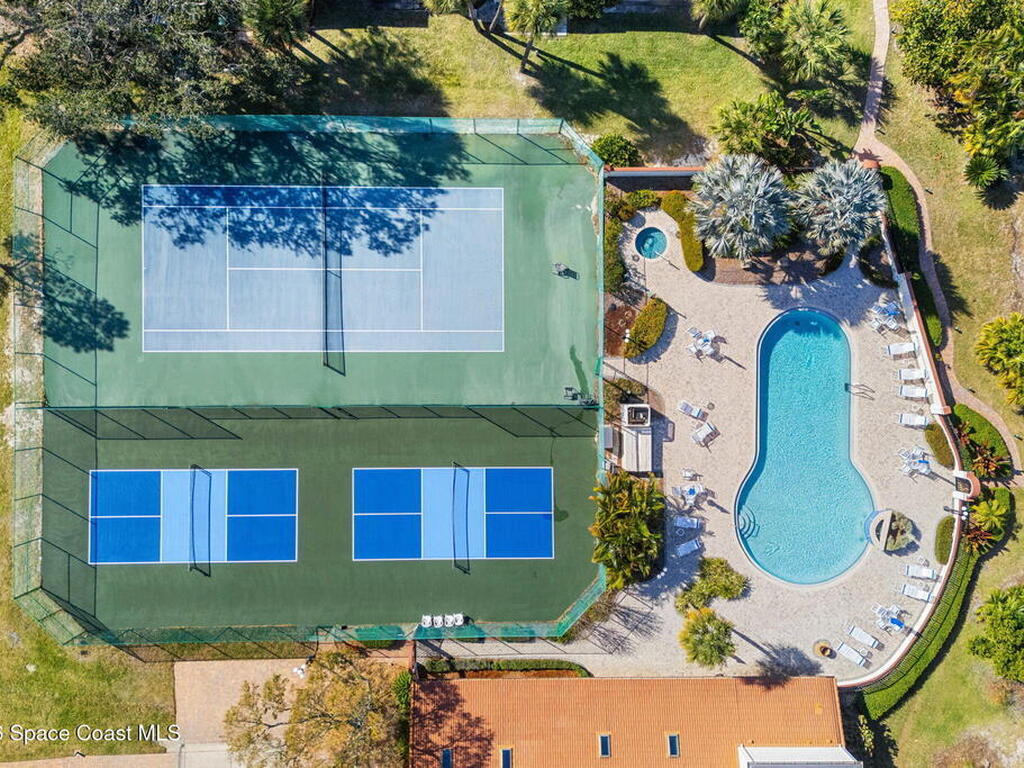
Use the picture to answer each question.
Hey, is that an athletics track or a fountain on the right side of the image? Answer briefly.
fountain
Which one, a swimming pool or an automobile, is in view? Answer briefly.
swimming pool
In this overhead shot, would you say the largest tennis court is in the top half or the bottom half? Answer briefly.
top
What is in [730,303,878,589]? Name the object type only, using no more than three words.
swimming pool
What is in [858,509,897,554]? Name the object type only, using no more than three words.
fountain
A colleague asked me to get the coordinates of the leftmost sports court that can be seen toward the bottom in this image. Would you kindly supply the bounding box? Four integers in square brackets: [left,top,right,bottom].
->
[89,468,298,564]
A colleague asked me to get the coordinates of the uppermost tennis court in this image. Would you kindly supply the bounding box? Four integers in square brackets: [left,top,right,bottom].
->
[42,130,598,406]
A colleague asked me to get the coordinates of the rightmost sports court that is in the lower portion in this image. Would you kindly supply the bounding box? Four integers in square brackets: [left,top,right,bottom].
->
[352,466,554,561]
